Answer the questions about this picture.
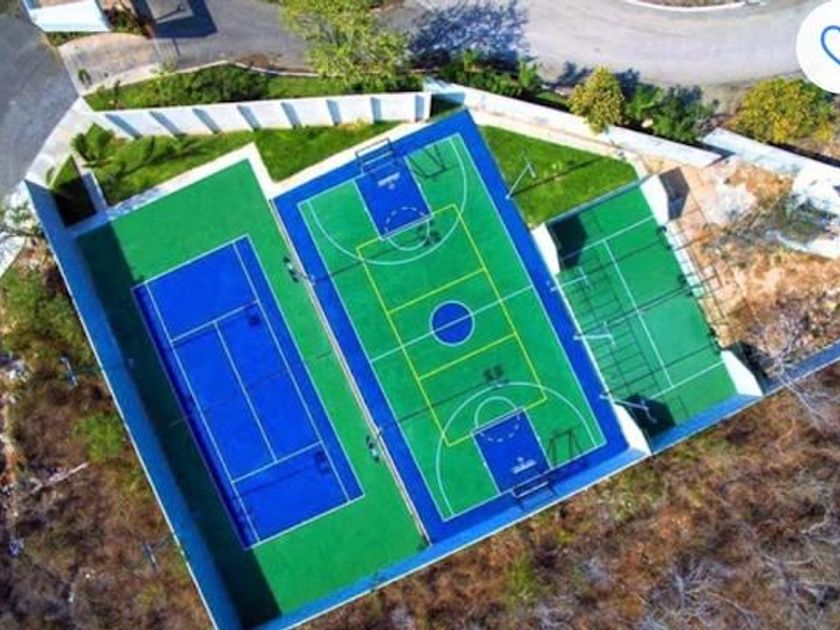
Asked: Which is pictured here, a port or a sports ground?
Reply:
sports ground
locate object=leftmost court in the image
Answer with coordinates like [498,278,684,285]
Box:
[72,161,423,630]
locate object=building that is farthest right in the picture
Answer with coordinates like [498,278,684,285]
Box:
[151,0,217,40]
